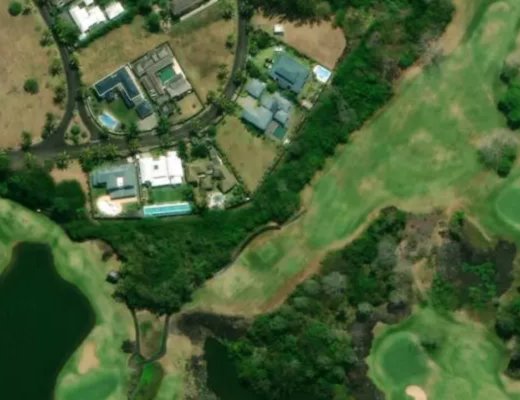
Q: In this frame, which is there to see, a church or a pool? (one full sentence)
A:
It is a pool that can be seen here.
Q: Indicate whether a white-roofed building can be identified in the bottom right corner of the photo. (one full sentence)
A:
No, no white-roofed building is visible in the bottom right corner of the photo.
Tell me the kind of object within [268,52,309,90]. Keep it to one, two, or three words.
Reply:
house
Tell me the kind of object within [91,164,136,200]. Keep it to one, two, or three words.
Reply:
house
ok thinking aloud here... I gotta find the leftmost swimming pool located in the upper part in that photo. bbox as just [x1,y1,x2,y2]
[100,111,119,129]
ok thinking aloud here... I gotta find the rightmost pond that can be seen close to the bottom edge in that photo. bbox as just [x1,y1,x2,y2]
[206,339,257,400]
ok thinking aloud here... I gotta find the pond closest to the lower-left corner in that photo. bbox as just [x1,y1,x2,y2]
[0,245,93,400]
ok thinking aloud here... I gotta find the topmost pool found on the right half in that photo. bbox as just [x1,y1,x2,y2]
[313,65,331,82]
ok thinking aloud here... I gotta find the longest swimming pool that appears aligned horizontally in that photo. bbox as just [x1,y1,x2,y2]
[143,202,190,216]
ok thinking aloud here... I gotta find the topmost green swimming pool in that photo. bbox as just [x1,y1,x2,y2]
[156,64,176,83]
